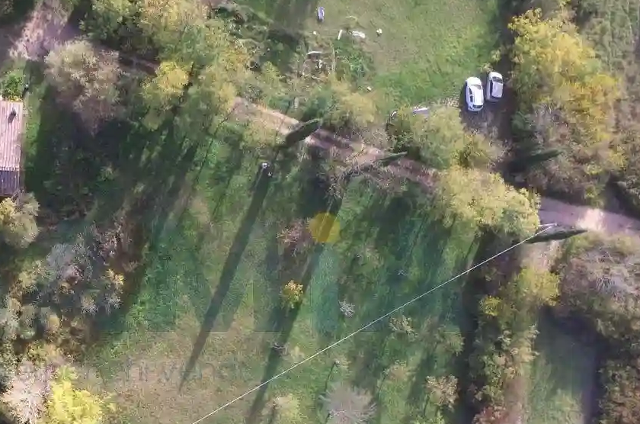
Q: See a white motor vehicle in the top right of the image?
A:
Yes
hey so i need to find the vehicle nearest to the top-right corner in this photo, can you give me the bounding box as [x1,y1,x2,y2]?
[485,73,503,102]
